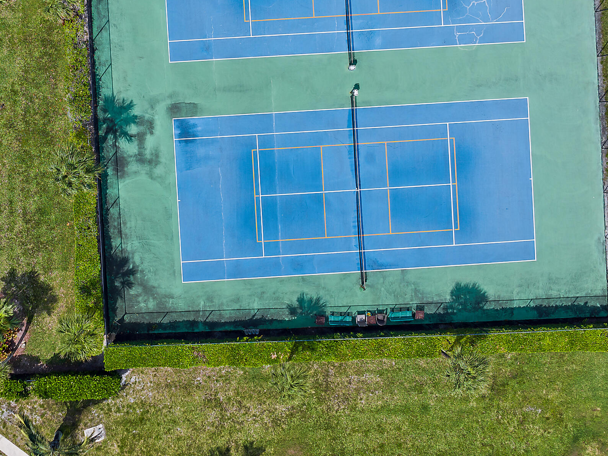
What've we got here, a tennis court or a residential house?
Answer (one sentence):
There is a tennis court in the scene.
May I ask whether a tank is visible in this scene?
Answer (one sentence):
No, this view has no tank in it.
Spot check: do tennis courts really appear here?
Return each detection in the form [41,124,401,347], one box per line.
[172,96,537,283]
[166,0,526,63]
